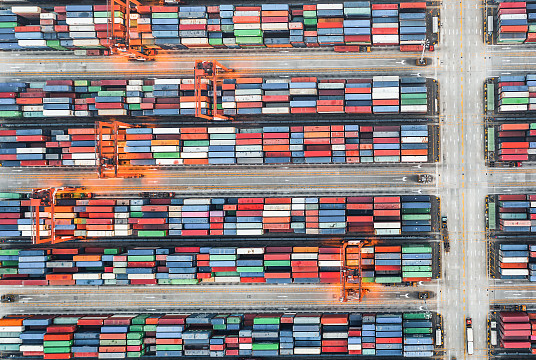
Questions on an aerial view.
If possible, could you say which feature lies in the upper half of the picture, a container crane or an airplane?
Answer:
container crane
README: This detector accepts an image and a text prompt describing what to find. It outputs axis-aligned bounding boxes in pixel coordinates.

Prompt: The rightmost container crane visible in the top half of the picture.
[194,59,236,120]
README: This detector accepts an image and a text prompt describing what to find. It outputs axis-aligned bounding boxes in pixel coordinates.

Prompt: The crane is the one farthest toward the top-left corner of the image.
[106,0,157,60]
